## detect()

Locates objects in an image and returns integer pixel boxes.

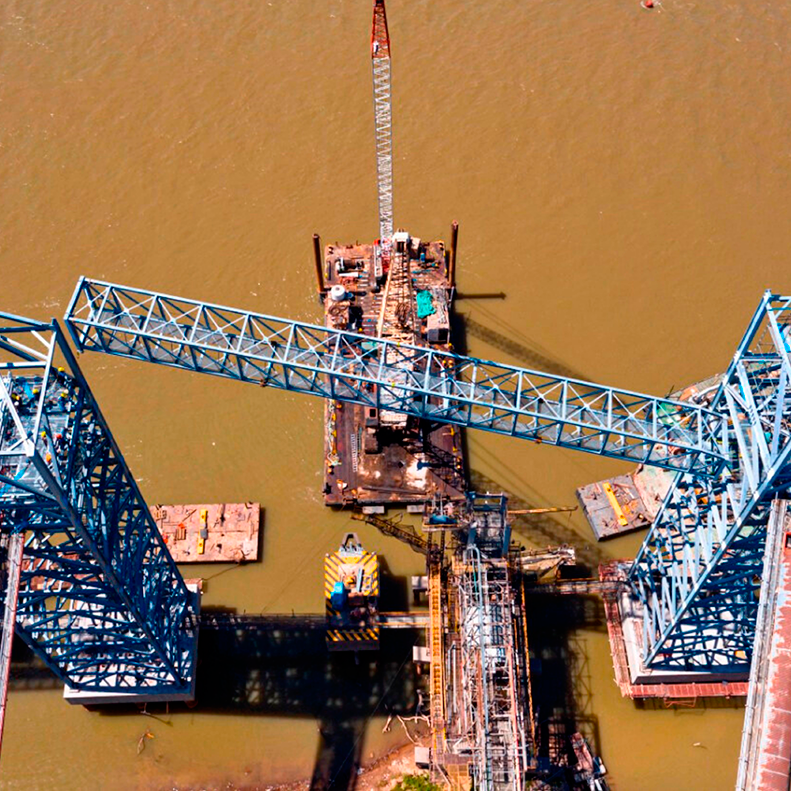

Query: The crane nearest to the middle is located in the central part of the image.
[342,226,442,453]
